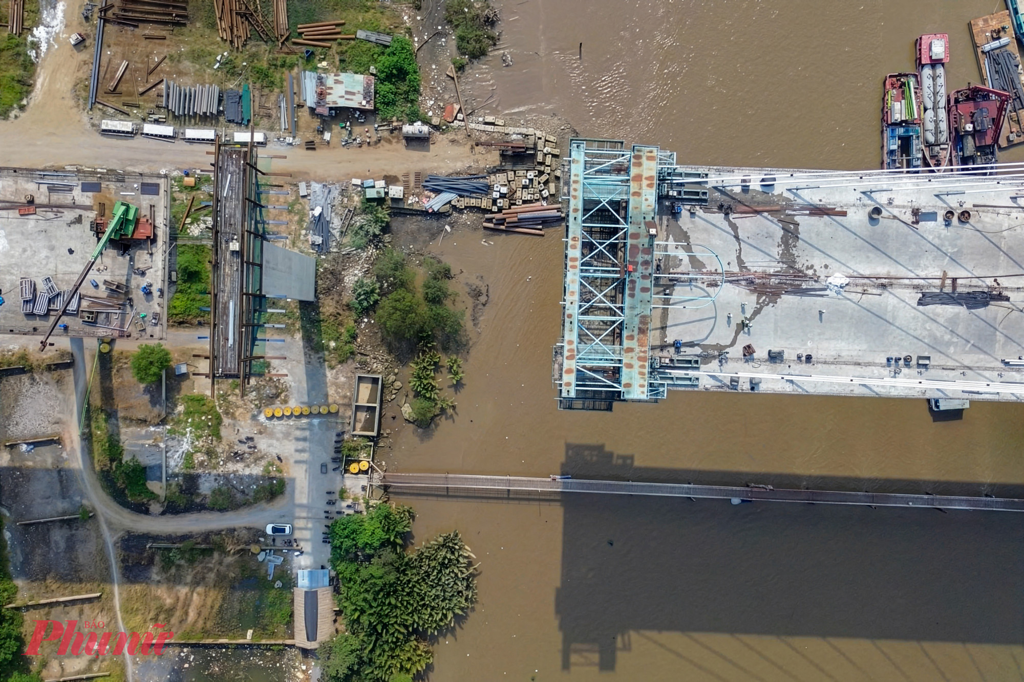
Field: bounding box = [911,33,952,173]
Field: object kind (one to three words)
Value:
ship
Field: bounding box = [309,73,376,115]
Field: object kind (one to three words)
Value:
shed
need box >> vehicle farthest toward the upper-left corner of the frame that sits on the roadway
[71,32,88,48]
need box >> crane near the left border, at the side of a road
[37,201,154,353]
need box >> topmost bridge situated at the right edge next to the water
[650,161,1024,402]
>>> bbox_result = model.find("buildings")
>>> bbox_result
[309,73,376,115]
[293,588,334,647]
